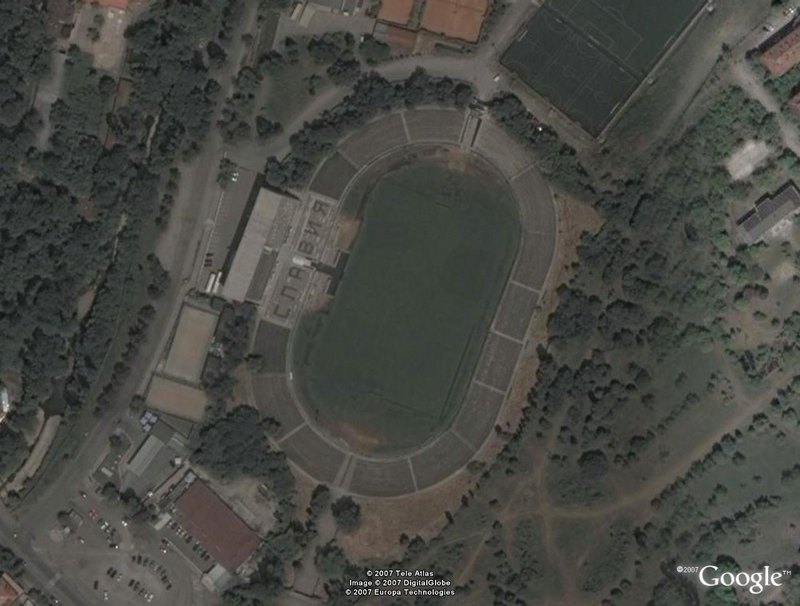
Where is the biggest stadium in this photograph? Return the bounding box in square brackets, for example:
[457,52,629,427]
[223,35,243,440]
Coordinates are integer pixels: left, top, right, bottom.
[248,99,560,500]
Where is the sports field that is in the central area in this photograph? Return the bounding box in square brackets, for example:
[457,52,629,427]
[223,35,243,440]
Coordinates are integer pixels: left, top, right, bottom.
[289,143,522,458]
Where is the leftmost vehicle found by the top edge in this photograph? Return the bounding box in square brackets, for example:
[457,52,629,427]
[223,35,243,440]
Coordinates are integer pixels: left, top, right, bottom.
[290,2,303,21]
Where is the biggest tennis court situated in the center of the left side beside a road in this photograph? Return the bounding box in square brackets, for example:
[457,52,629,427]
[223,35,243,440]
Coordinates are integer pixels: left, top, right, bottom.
[165,305,216,383]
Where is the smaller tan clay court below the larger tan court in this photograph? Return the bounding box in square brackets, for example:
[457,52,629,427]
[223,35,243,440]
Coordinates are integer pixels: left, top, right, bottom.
[145,376,205,421]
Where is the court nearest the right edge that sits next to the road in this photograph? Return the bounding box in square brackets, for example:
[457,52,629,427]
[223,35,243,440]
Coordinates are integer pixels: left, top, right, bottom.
[420,0,486,41]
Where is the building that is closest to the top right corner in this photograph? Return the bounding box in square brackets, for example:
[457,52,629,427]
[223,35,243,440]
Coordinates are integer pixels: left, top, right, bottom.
[763,30,800,74]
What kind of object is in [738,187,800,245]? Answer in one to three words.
building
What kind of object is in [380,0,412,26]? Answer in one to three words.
tennis court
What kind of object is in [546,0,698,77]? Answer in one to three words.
soccer field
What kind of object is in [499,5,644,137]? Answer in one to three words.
soccer field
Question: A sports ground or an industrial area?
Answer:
sports ground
